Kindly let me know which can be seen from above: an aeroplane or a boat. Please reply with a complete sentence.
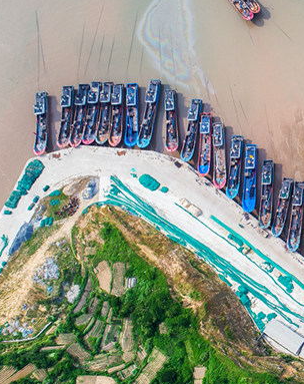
Of the two, only a boat appears.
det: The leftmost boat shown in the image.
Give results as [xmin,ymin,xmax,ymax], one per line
[33,91,49,156]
